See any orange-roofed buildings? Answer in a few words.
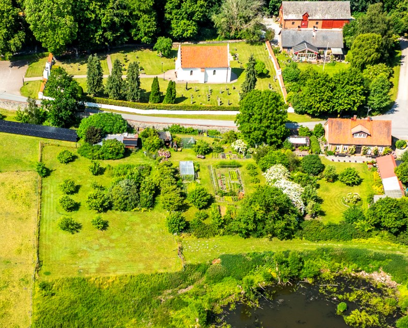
Yes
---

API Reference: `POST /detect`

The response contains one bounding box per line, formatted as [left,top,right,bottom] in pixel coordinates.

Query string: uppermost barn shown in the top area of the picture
[279,1,352,29]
